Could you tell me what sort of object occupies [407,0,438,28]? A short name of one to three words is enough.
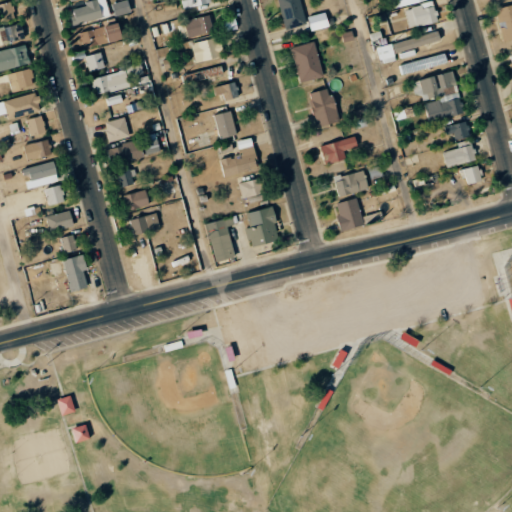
house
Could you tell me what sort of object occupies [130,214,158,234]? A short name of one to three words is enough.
house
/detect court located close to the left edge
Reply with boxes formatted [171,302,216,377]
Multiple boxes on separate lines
[16,430,69,484]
